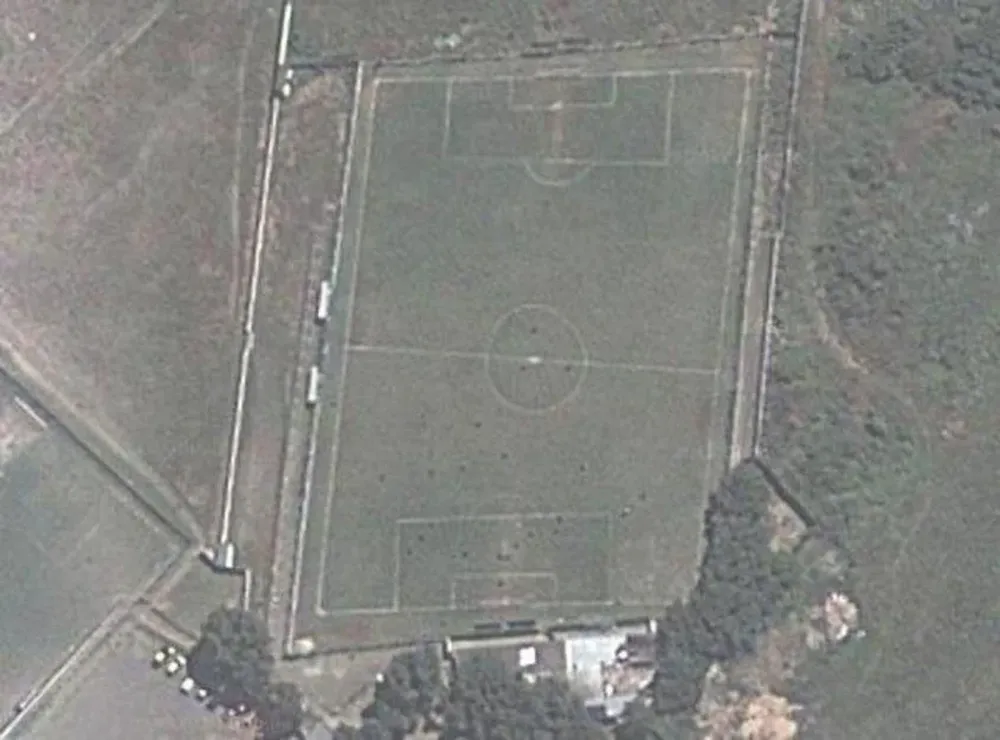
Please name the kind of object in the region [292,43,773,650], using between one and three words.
soccer field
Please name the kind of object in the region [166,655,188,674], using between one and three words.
car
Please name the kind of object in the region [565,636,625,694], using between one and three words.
building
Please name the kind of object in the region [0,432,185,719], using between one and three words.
soccer field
